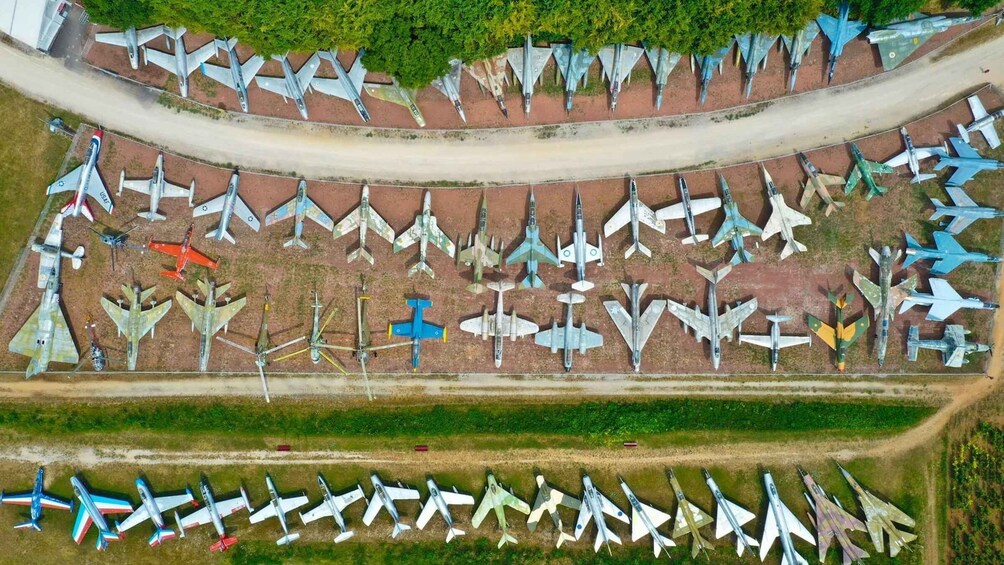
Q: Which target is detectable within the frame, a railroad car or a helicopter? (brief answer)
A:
helicopter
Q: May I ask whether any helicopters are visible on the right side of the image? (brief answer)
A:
No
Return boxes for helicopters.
[274,289,345,374]
[217,292,305,401]
[318,282,413,399]
[89,226,147,270]
[71,319,126,374]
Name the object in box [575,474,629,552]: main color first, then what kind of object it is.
white airplane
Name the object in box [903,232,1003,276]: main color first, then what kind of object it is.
blue airplane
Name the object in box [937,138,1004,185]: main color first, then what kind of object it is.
blue airplane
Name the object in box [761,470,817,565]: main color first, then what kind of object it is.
white airplane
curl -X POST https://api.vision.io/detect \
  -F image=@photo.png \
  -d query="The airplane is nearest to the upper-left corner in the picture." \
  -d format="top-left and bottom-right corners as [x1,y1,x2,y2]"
[97,15,165,70]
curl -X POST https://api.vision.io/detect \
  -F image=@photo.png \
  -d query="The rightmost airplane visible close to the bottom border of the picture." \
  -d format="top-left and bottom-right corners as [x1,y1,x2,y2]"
[837,464,919,556]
